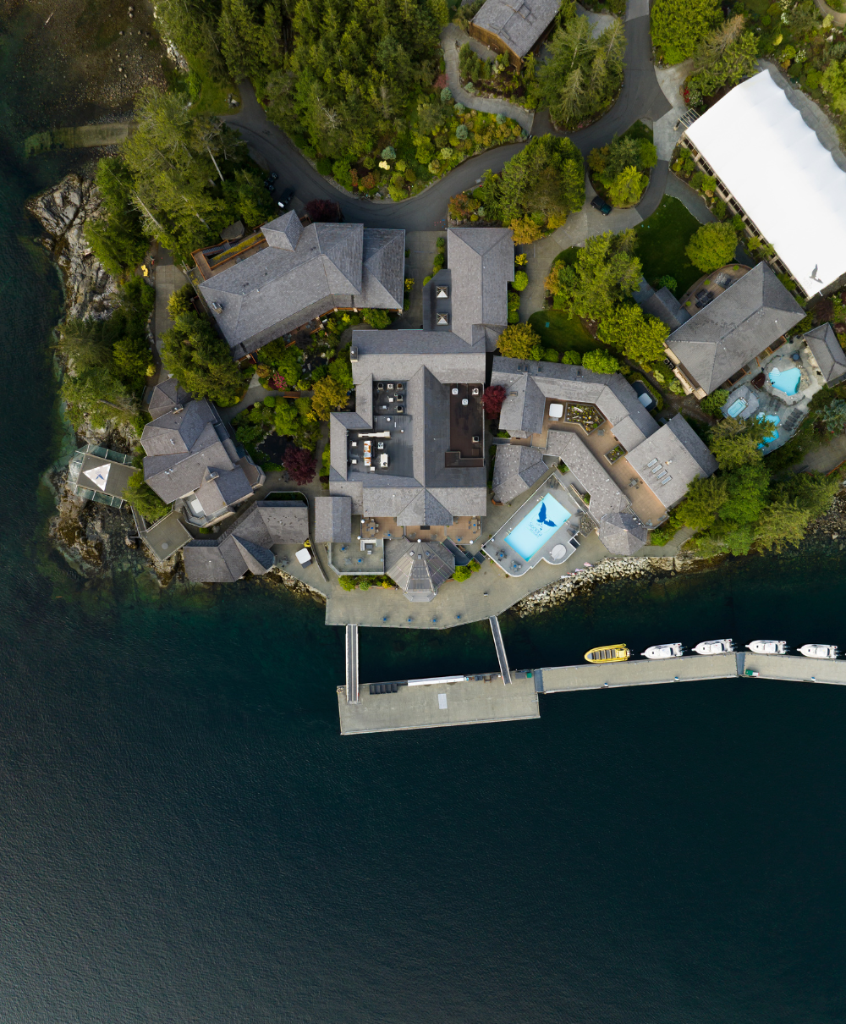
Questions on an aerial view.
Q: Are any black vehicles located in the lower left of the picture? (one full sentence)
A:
No, there's no black vehicle to be seen in the lower left of the picture.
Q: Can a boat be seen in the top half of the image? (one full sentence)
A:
No, the scene shows no boat in the top half of the image.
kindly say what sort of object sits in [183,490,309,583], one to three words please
building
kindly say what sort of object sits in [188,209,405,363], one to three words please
building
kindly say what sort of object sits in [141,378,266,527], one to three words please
house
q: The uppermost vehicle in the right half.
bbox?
[590,191,614,215]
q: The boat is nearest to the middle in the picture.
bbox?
[587,644,631,663]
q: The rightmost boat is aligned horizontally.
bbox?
[799,645,844,662]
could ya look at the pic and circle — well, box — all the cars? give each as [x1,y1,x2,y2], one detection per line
[590,191,614,215]
[275,185,297,207]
